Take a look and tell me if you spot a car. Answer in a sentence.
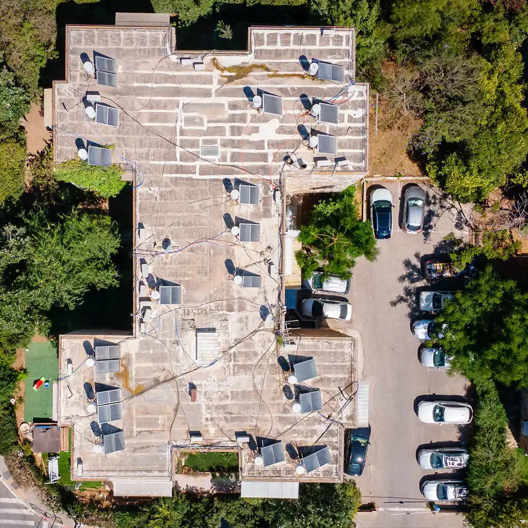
Yes, a car is visible in the scene.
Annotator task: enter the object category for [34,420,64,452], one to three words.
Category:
building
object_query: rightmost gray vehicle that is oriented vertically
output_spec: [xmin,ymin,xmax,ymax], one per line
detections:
[400,185,424,235]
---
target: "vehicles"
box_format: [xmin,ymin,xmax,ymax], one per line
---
[411,317,460,343]
[417,288,473,314]
[299,296,354,322]
[400,185,424,235]
[344,428,372,478]
[416,448,473,474]
[301,272,352,295]
[415,400,475,428]
[420,479,476,505]
[369,188,396,240]
[418,346,475,370]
